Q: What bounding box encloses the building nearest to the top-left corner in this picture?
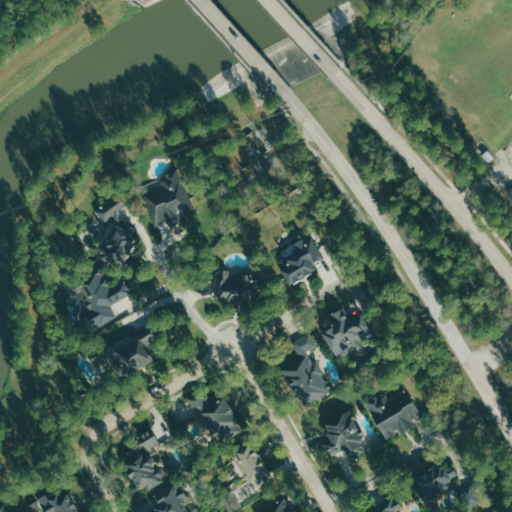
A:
[91,194,128,224]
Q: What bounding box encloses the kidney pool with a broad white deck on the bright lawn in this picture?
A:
[148,158,170,178]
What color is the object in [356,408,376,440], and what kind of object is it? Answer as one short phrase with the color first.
blue swimming pool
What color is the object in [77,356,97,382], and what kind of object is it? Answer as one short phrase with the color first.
blue swimming pool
